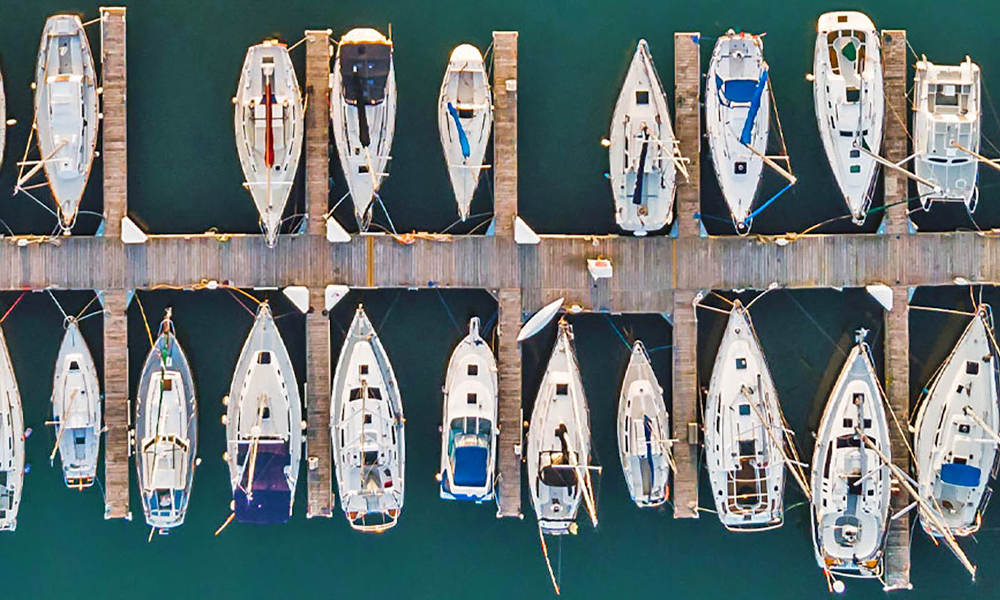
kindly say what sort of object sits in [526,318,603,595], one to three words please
boat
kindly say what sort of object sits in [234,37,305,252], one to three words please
boat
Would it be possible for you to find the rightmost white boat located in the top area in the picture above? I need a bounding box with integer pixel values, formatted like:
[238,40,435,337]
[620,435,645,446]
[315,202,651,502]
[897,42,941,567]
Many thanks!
[911,55,1000,213]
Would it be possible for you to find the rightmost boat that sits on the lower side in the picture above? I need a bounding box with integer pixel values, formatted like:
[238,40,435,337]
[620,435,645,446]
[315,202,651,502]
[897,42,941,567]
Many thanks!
[914,304,1000,545]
